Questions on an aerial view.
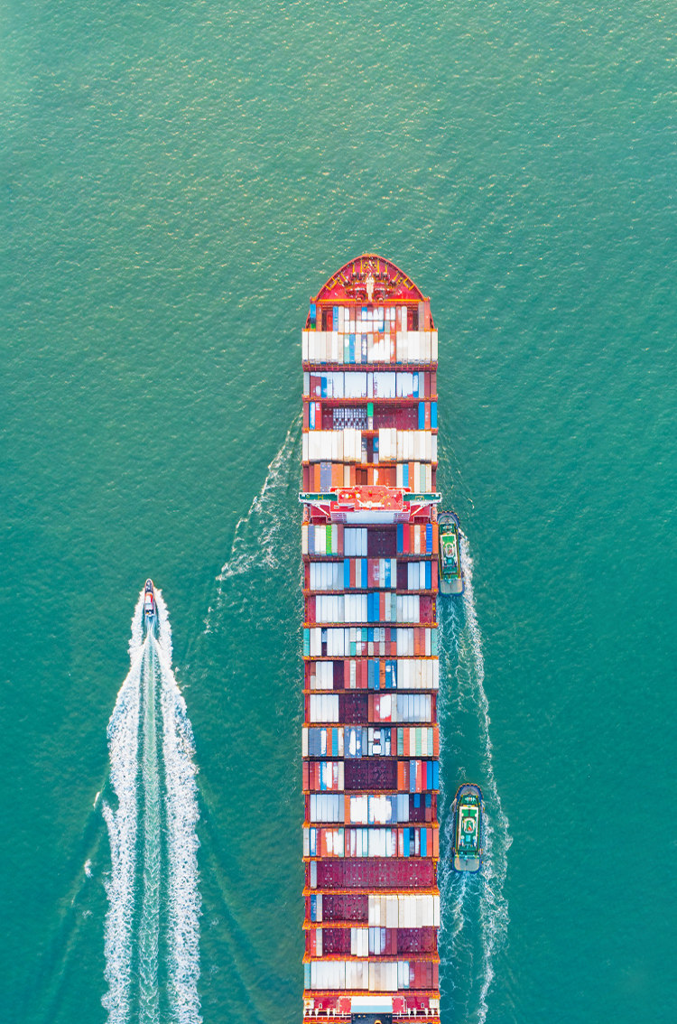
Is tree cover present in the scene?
No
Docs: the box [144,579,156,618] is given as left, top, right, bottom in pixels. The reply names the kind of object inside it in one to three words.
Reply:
boat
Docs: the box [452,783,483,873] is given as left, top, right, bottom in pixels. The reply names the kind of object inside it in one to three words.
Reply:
boat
